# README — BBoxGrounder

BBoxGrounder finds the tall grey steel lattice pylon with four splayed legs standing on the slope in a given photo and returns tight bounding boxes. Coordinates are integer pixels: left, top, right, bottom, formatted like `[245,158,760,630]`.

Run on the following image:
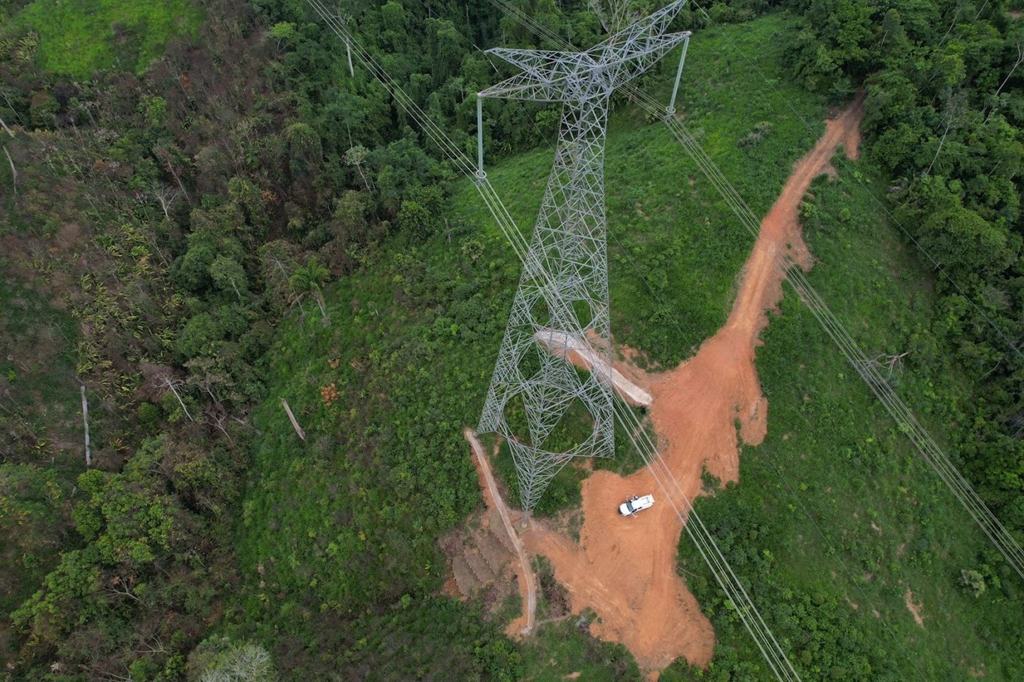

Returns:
[475,0,691,520]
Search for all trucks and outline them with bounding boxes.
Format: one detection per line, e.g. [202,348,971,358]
[617,493,655,518]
